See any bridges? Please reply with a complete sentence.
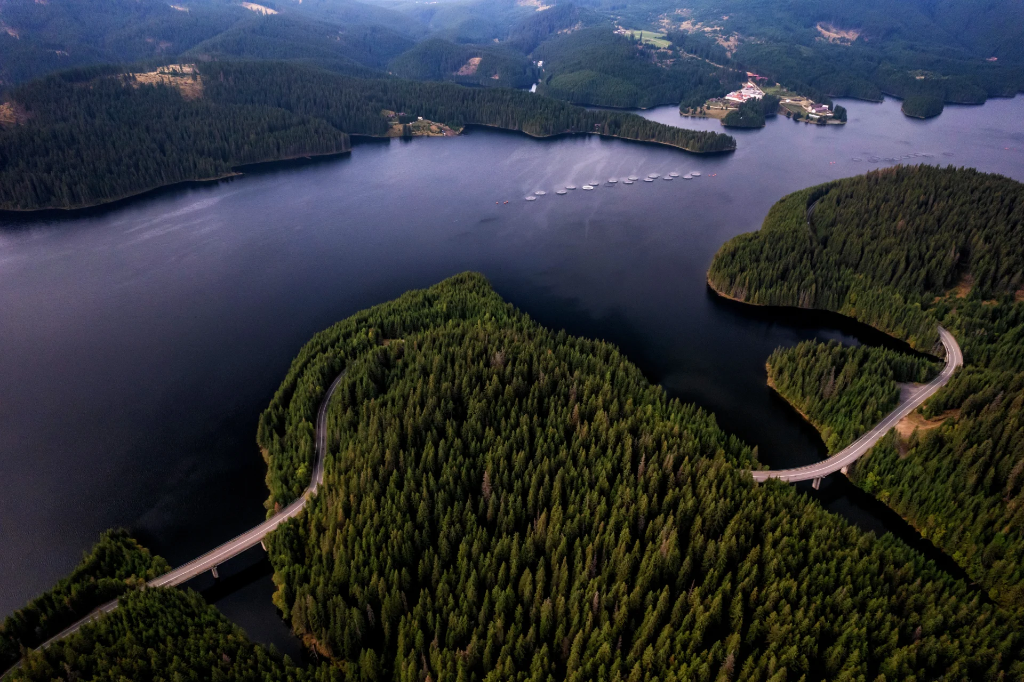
Yes, I can see a bridge in this picture.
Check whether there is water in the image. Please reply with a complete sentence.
Yes, there's water in this view.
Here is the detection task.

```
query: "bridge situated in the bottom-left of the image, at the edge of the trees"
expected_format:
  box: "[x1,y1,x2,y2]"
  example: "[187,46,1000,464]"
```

[149,510,289,591]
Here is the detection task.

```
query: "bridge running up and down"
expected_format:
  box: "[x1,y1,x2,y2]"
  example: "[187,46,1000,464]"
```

[942,325,965,366]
